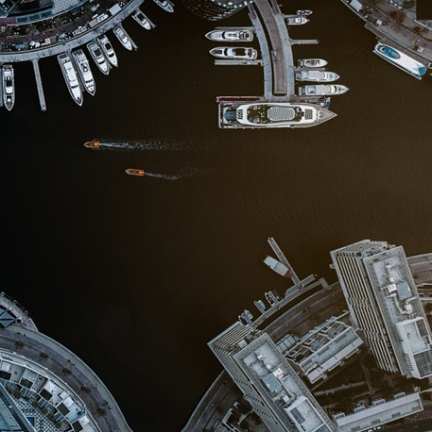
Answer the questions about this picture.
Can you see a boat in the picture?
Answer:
Yes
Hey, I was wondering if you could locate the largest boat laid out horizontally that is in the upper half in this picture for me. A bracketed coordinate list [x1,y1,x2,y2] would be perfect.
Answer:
[218,102,338,127]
